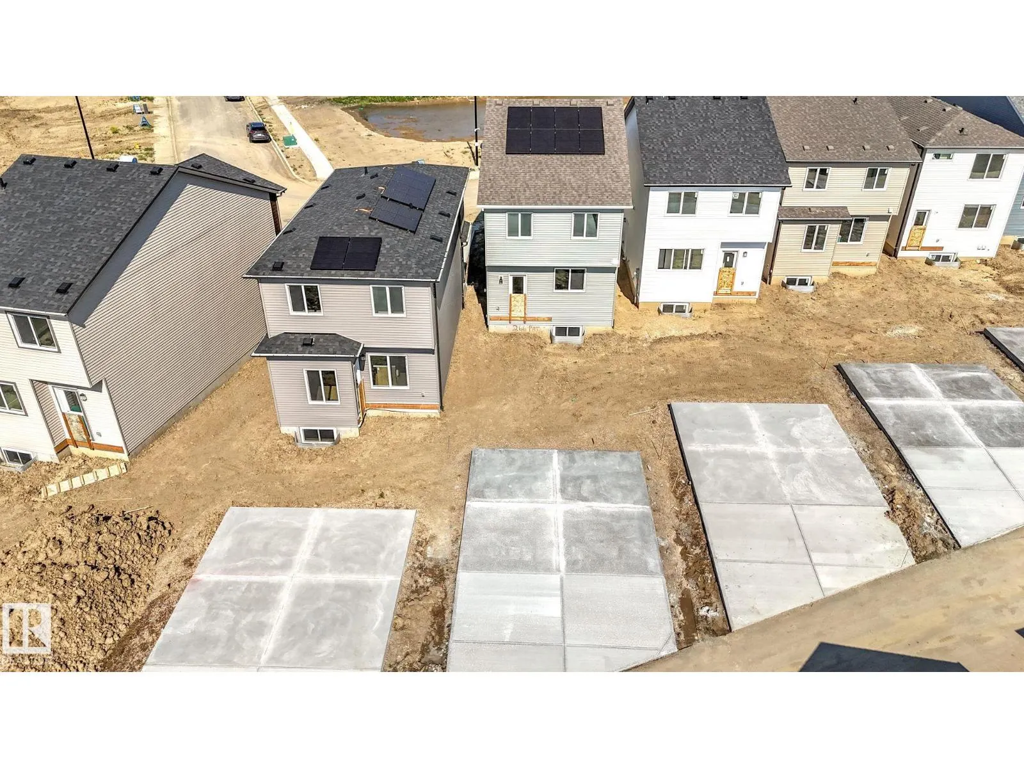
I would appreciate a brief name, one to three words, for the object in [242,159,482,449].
house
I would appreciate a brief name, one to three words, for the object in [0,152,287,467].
house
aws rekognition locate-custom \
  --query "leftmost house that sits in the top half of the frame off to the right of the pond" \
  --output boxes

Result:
[475,97,635,342]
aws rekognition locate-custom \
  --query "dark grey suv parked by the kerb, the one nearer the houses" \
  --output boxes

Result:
[241,115,268,140]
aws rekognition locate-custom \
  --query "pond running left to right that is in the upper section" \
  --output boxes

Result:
[359,101,482,142]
